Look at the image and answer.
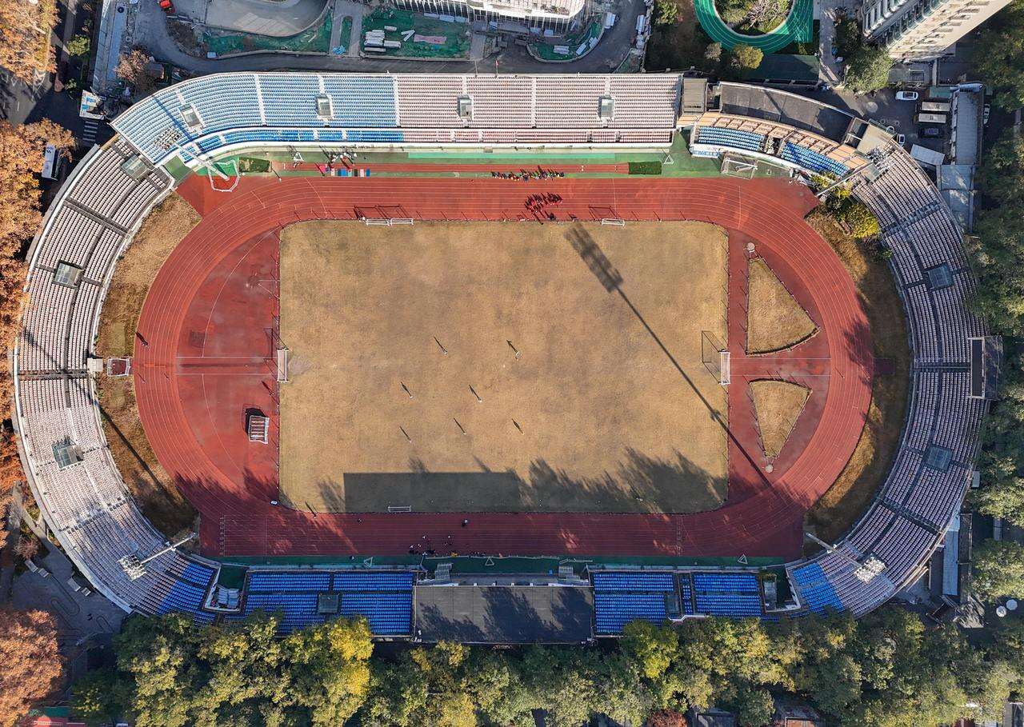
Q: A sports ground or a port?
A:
sports ground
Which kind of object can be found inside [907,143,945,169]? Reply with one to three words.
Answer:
shed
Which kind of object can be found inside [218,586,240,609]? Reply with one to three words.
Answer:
shed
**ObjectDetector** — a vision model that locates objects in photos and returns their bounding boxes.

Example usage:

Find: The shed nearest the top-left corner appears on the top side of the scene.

[138,55,164,75]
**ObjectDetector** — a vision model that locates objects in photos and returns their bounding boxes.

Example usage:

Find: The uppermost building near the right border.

[862,0,1013,63]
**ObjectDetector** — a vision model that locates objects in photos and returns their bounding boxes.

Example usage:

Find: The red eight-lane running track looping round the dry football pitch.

[136,175,895,561]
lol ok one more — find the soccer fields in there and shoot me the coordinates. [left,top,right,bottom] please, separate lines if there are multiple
[280,223,728,512]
